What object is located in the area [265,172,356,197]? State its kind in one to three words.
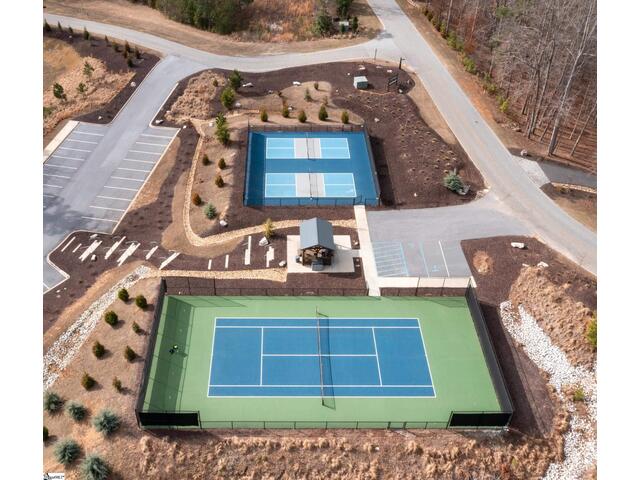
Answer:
sports court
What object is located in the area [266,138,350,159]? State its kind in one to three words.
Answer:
sports court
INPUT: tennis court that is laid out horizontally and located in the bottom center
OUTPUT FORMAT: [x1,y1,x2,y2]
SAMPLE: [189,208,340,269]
[139,295,507,429]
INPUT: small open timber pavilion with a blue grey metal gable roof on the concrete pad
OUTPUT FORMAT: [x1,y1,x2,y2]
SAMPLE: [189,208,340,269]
[299,216,336,263]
